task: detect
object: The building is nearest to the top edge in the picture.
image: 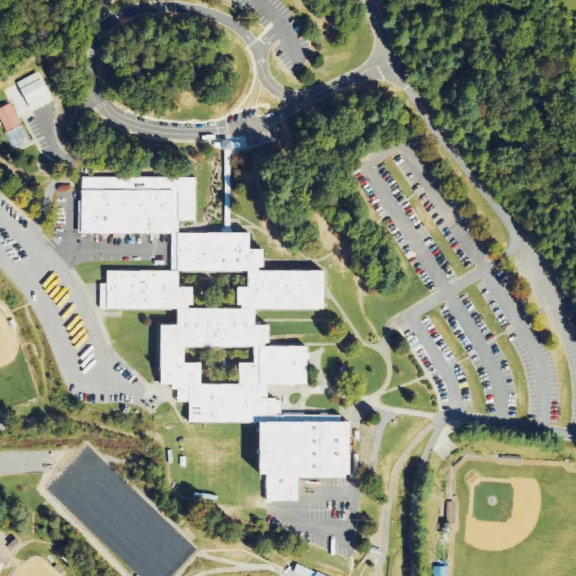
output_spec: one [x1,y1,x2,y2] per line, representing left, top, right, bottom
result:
[16,71,52,108]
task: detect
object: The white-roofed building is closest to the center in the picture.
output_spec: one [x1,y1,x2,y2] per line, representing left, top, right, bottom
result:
[237,270,324,309]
